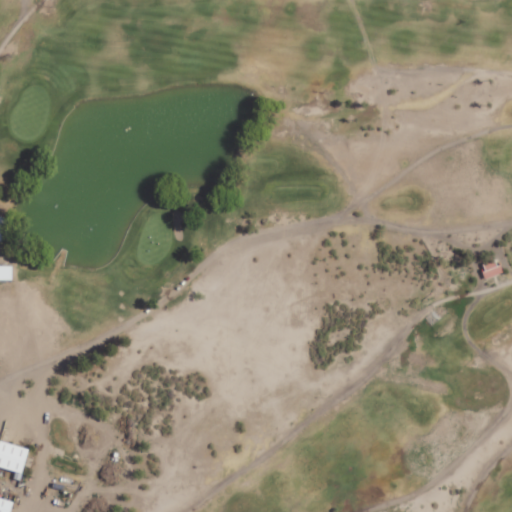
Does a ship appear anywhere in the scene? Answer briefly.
No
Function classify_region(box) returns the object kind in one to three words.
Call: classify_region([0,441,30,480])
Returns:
building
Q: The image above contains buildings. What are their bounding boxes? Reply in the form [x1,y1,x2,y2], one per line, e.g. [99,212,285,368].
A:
[0,265,12,282]
[0,498,14,512]
[0,441,30,480]
[482,260,505,281]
